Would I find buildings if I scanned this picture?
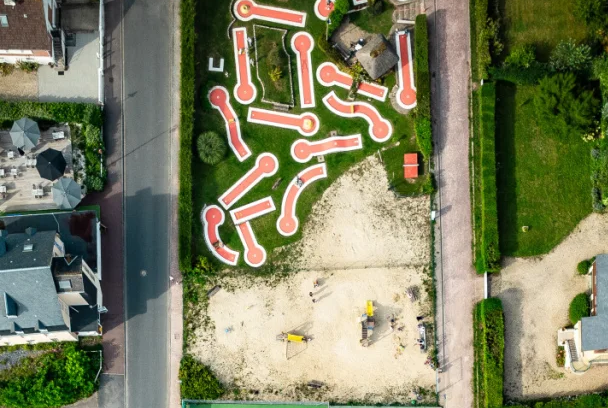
Yes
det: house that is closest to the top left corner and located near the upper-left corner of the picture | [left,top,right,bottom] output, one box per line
[0,0,59,59]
